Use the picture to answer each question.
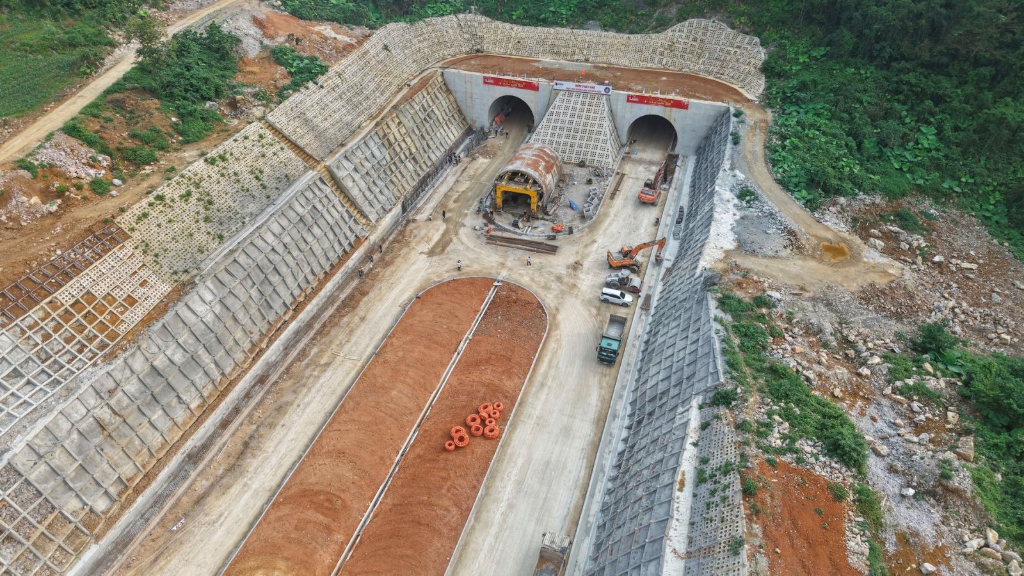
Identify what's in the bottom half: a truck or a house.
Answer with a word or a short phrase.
truck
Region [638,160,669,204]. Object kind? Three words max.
work vehicle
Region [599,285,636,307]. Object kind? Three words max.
car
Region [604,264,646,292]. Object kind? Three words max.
work vehicle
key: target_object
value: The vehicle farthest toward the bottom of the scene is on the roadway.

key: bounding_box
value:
[528,533,571,576]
